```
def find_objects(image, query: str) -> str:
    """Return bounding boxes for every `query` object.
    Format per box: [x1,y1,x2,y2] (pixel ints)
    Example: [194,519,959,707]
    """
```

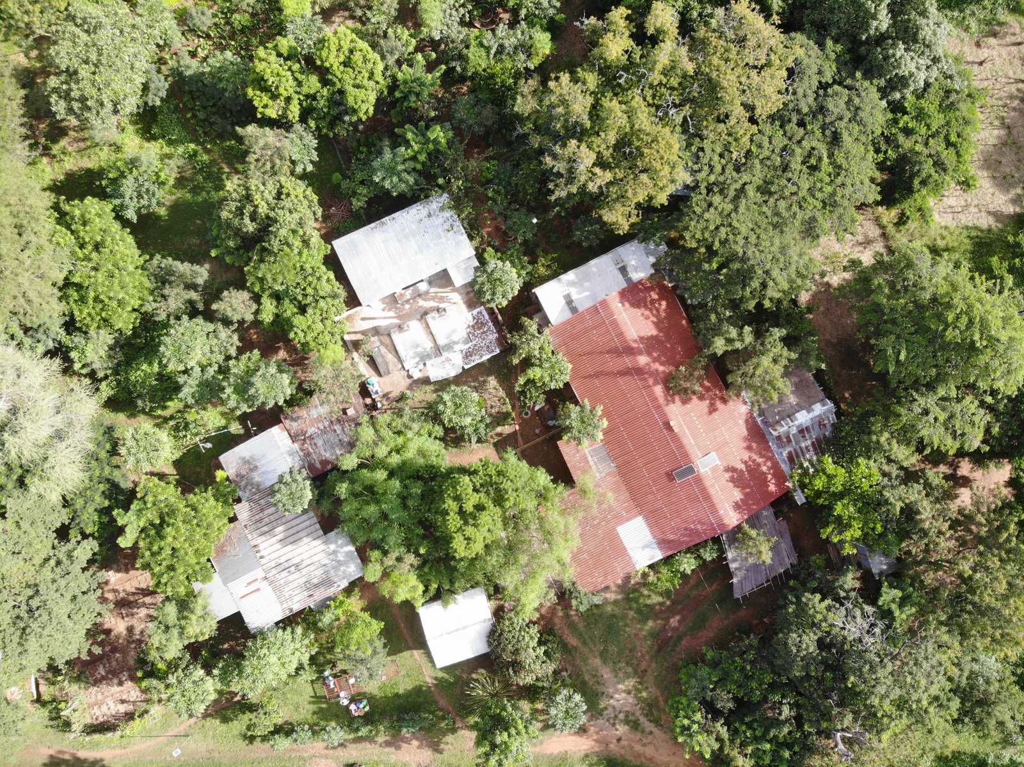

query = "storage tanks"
[390,319,435,370]
[426,305,472,356]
